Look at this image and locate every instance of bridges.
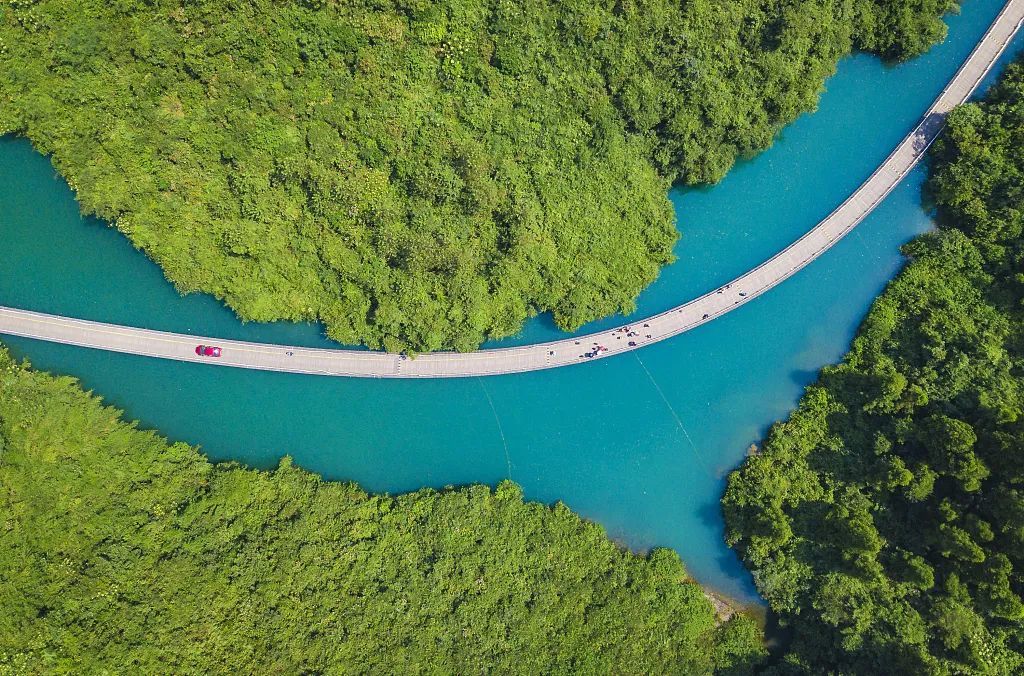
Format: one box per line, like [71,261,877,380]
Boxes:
[0,0,1024,378]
